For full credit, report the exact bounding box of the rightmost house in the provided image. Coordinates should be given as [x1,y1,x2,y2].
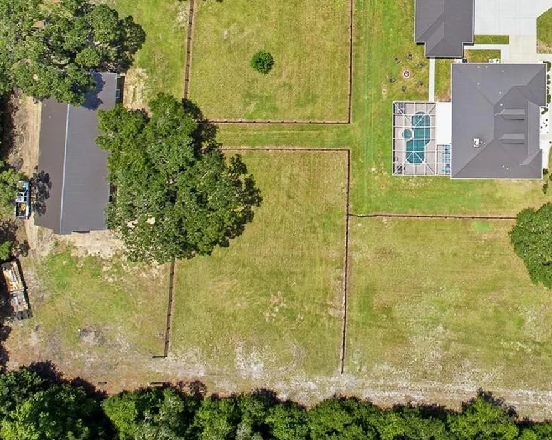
[451,62,547,180]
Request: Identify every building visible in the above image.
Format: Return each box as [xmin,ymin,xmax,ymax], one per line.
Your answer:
[415,0,474,57]
[451,62,547,180]
[34,69,127,235]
